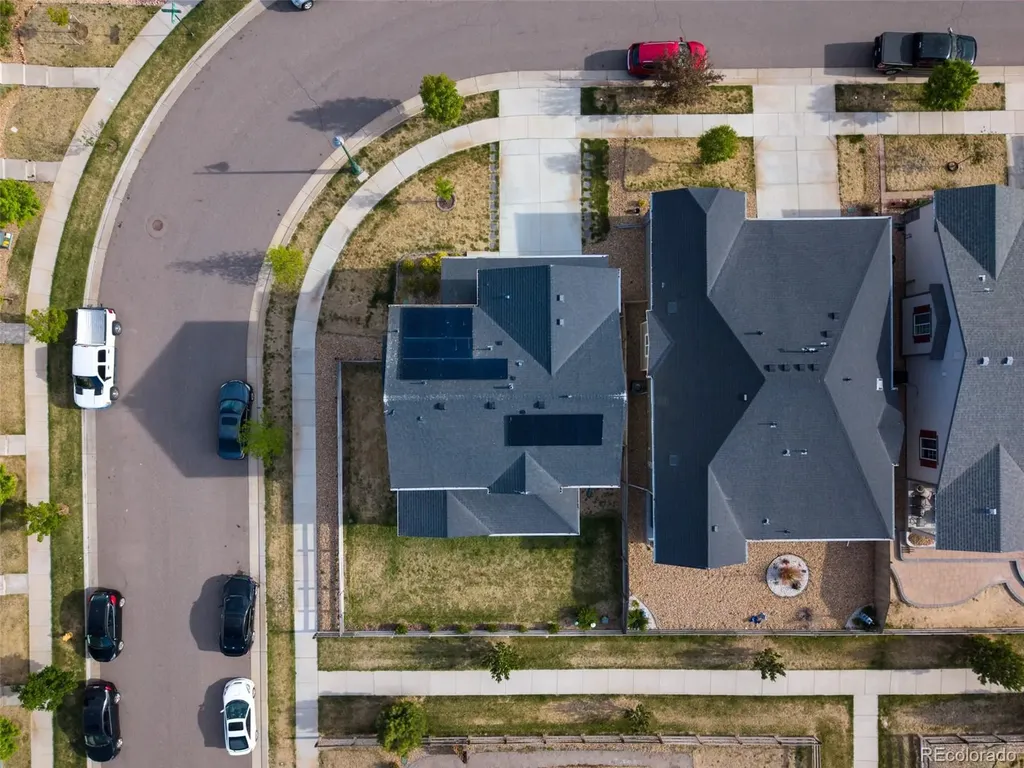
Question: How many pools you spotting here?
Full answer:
There are no pools in the image.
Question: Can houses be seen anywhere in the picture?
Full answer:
Yes, there's a house down there.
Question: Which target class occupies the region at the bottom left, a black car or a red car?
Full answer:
Looking at the bottom left, you will find a black car.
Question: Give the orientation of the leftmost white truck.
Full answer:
The leftmost white truck has been laid out vertically relative to the frame.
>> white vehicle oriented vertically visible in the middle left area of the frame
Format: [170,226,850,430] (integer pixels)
[72,306,120,409]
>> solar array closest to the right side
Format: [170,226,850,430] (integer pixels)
[508,415,603,447]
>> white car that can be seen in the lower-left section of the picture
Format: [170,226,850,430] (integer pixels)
[216,677,255,755]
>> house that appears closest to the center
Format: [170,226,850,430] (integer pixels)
[385,256,625,539]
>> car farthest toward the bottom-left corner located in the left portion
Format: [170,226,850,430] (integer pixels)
[79,681,122,759]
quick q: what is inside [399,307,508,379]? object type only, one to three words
solar array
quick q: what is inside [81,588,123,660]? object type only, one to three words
car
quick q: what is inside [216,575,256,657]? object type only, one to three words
car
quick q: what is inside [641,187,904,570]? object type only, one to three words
house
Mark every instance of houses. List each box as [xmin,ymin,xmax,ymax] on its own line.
[385,256,625,539]
[903,183,1024,552]
[641,187,904,570]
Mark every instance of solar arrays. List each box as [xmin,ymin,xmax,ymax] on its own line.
[508,415,603,447]
[399,307,508,379]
